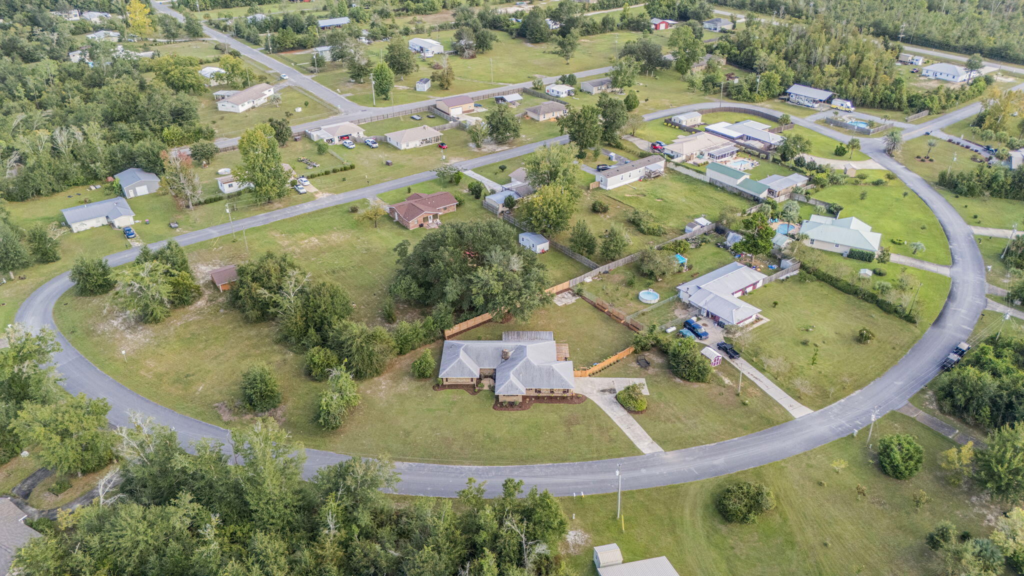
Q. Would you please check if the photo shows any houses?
Yes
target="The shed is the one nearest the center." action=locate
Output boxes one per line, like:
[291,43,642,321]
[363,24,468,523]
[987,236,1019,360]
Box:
[523,229,549,253]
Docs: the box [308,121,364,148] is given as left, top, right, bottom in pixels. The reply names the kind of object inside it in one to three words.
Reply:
house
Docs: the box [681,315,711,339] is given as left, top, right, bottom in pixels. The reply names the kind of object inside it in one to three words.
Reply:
truck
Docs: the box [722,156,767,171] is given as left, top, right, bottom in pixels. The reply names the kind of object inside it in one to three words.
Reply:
swimming pool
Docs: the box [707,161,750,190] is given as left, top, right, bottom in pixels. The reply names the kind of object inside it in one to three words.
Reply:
building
